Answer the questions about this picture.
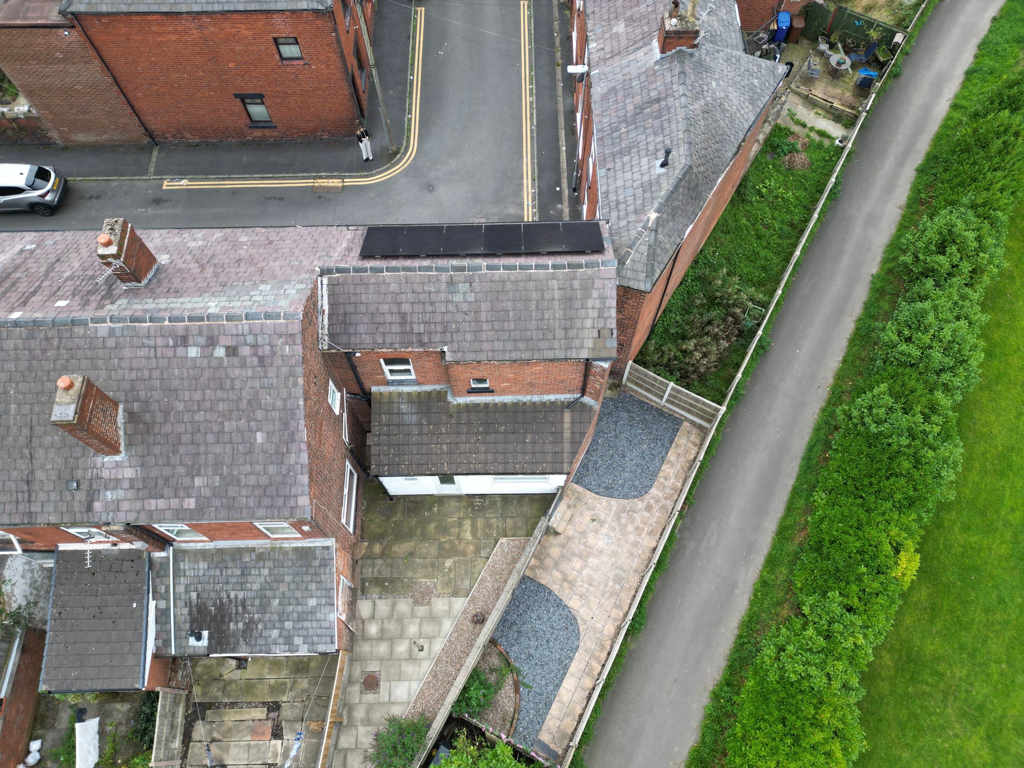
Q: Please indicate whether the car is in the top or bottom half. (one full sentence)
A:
The car sits in the top half of the picture.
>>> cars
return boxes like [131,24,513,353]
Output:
[0,158,69,218]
